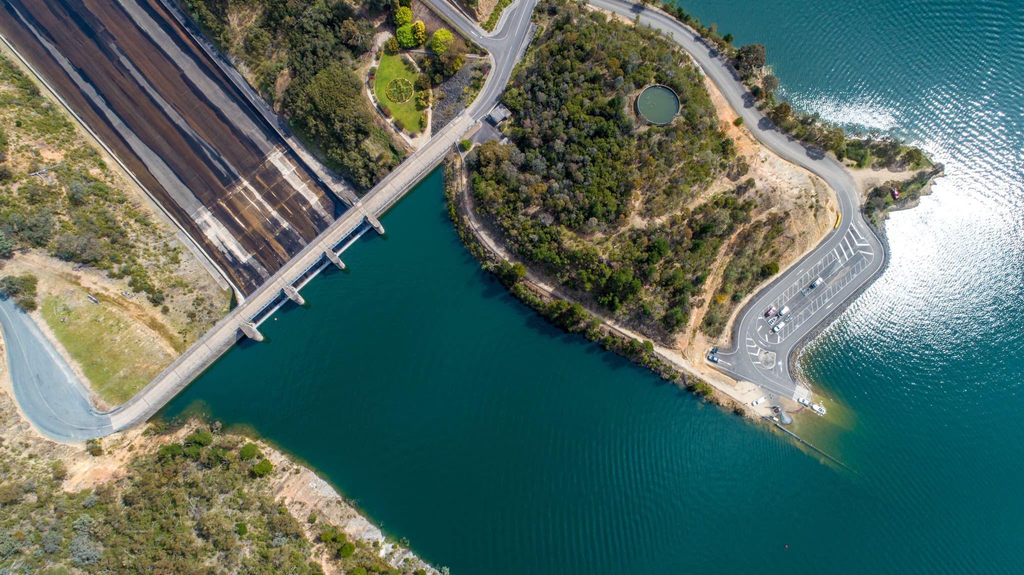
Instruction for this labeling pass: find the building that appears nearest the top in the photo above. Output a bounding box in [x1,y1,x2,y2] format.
[487,104,511,127]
